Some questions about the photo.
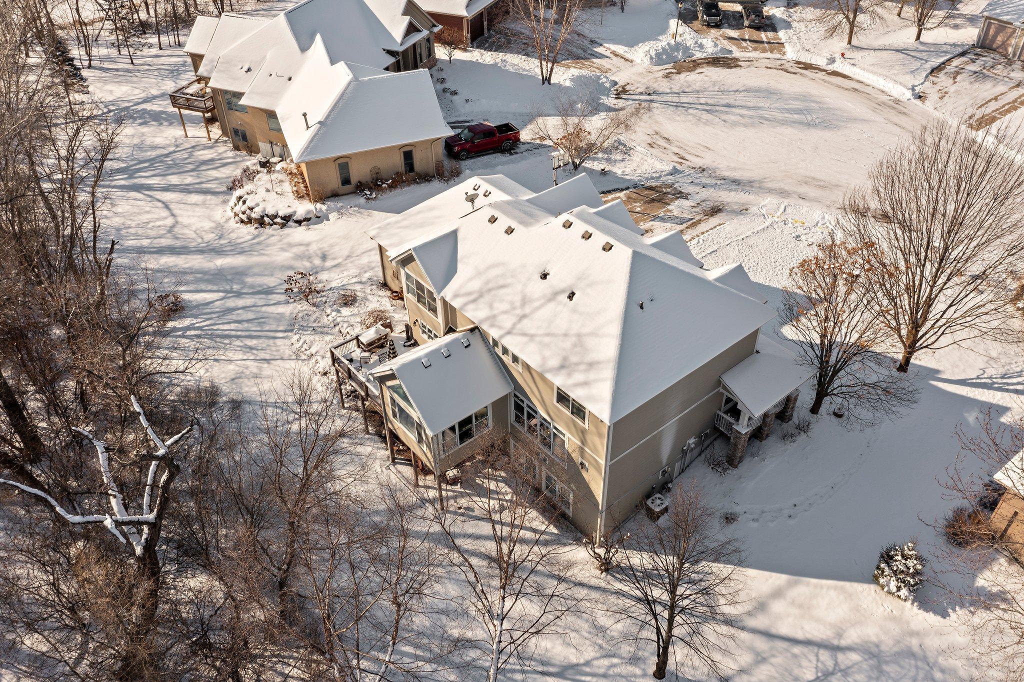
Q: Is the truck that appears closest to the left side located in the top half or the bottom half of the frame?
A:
top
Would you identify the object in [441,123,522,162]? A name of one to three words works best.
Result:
truck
